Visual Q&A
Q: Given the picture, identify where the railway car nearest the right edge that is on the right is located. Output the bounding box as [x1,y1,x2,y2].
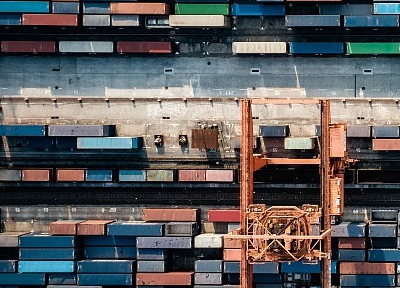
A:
[358,166,400,182]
